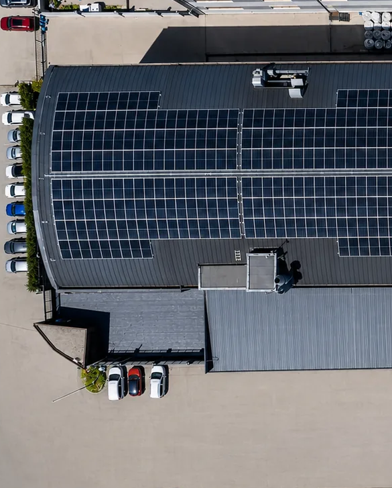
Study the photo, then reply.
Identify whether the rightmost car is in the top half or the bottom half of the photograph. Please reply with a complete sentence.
You can find the rightmost car in the bottom half.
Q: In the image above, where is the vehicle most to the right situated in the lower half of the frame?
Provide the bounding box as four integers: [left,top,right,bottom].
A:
[149,364,169,398]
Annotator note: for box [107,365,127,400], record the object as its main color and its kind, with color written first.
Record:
white car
